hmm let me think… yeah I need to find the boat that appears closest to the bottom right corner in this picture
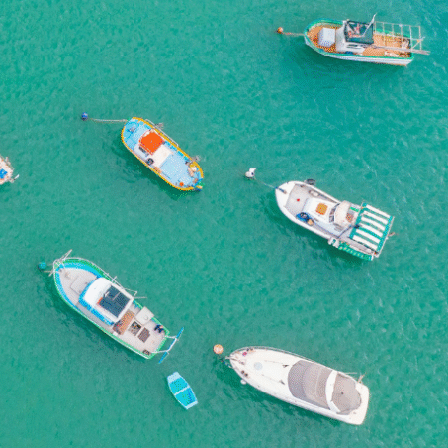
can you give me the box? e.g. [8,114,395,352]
[229,344,368,425]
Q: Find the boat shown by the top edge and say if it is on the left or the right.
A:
right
